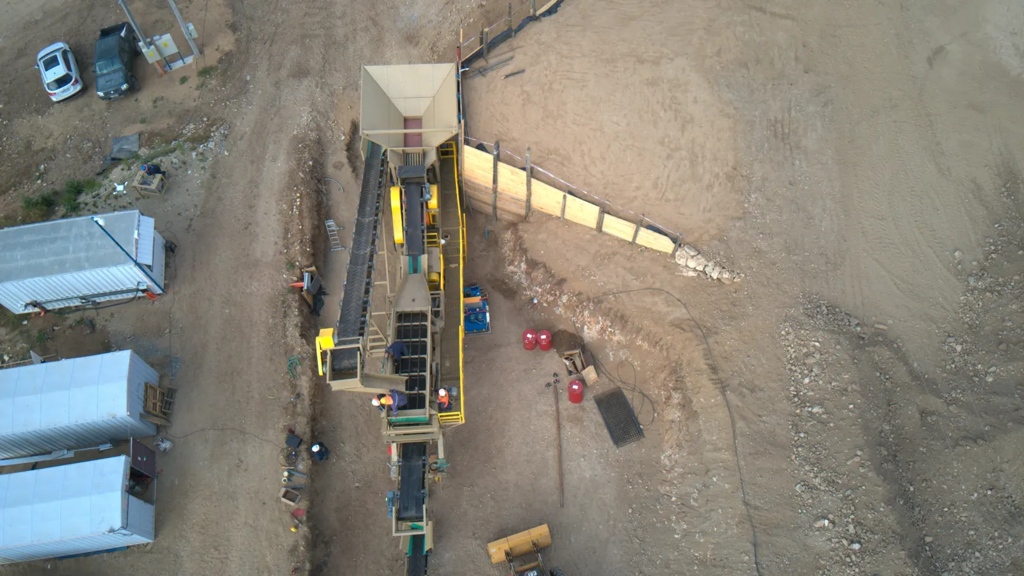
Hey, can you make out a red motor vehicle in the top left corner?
No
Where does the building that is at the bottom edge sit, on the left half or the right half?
left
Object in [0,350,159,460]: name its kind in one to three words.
building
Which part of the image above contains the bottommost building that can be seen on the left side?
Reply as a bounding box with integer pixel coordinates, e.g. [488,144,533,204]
[0,422,158,572]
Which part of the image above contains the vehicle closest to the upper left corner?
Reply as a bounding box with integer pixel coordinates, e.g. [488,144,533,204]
[35,44,86,105]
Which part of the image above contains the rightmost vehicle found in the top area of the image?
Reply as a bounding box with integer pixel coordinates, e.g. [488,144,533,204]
[91,28,139,101]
